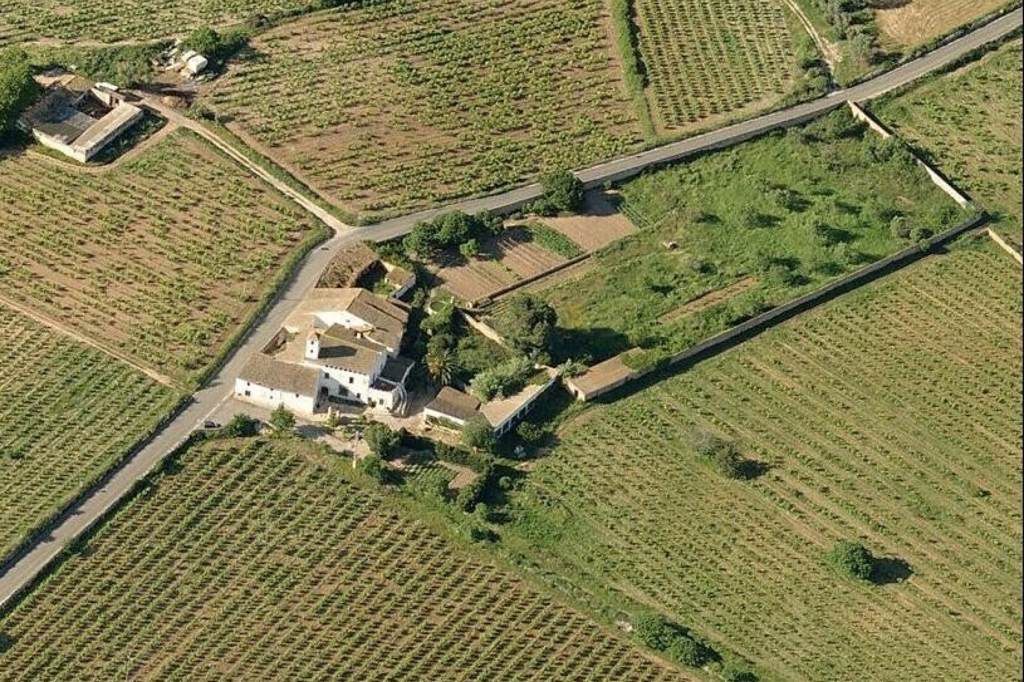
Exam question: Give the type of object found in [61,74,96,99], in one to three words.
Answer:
shed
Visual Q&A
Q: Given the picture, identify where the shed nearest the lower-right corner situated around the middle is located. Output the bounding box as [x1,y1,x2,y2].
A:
[569,347,647,405]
